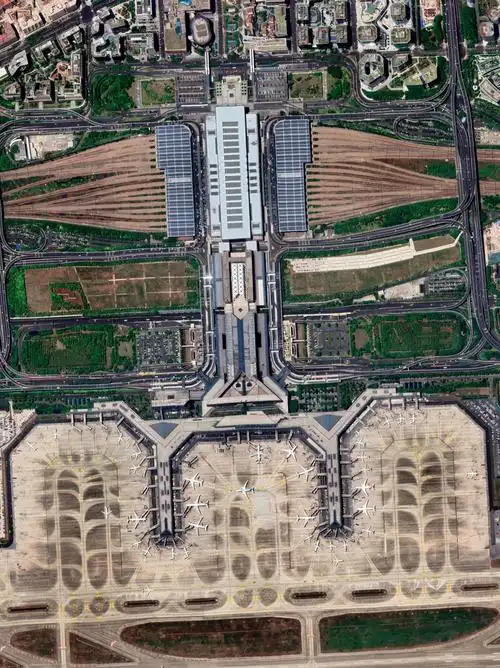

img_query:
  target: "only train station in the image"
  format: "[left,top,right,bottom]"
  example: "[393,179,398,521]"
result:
[206,105,263,239]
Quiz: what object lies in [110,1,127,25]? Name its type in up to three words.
building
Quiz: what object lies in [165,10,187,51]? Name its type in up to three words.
building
